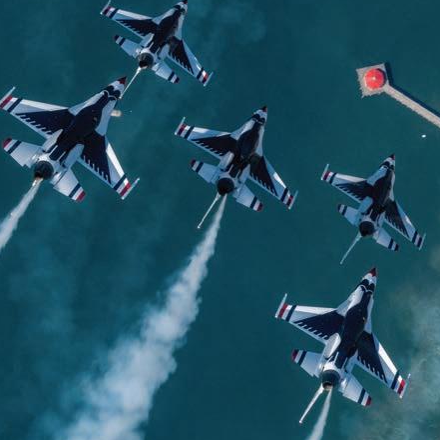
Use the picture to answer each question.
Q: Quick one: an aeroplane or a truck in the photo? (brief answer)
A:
aeroplane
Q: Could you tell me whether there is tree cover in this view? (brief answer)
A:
No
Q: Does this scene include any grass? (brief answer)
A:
No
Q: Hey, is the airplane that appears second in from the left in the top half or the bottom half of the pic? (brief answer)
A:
top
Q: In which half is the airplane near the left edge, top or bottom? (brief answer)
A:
top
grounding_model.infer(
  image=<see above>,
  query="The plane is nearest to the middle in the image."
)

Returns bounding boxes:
[175,104,297,228]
